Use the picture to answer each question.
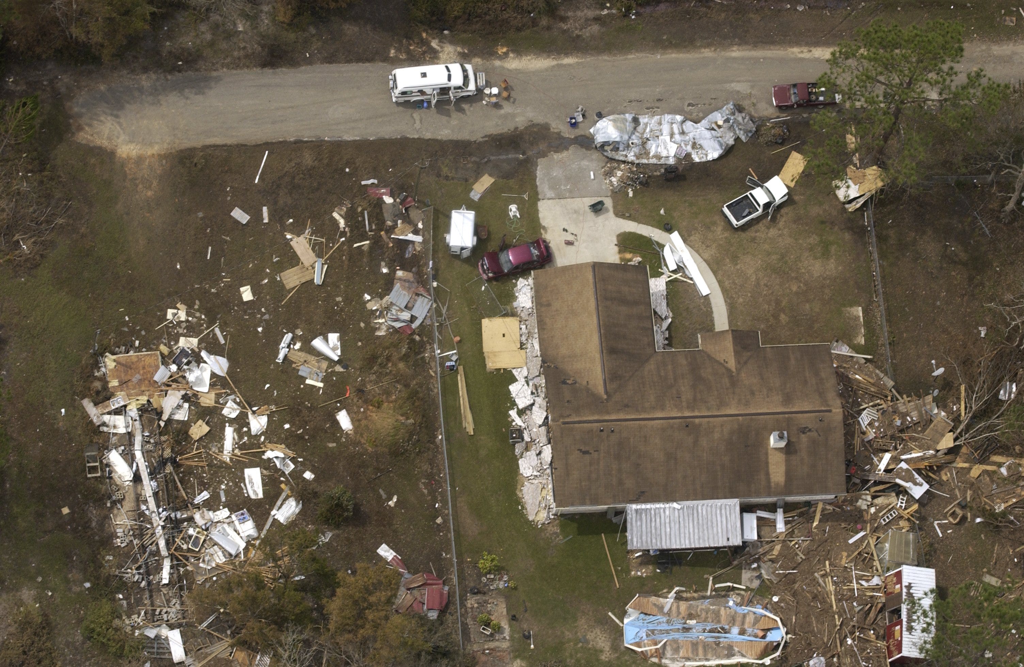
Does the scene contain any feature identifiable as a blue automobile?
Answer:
No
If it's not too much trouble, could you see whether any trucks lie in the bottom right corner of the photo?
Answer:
No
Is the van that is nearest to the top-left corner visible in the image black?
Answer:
No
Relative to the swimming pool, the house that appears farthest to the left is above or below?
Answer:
above it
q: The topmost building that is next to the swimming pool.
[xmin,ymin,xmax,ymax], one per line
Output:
[529,259,850,518]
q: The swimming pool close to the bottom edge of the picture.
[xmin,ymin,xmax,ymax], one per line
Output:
[608,577,784,667]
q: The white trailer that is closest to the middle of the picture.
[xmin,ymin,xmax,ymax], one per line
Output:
[445,211,475,262]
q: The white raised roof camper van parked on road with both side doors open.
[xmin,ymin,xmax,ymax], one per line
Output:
[393,63,478,107]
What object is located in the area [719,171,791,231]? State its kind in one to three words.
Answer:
truck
